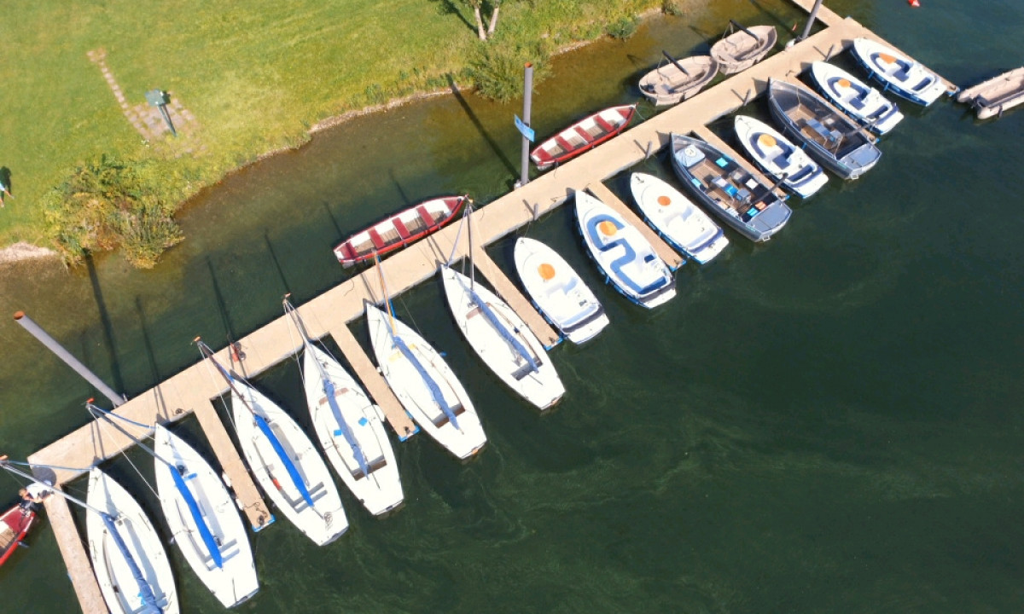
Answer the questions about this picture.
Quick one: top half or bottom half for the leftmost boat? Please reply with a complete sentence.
Seen from above, the leftmost boat lies in the bottom half of the view.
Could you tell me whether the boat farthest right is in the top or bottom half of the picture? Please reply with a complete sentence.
You can find the boat farthest right in the top half.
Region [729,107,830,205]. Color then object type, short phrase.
white boat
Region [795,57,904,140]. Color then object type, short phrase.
white boat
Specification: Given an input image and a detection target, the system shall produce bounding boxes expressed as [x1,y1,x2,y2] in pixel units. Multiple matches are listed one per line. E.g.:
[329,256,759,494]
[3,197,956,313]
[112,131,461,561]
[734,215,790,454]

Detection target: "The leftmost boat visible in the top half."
[333,194,479,271]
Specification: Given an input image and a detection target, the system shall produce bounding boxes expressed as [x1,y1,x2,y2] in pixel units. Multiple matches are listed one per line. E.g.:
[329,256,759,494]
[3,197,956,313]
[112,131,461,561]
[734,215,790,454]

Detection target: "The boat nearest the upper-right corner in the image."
[948,65,1024,122]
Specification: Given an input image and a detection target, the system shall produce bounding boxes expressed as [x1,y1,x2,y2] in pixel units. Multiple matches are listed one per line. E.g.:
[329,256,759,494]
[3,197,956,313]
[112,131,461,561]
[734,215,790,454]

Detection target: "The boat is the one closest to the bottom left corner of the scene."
[0,498,46,575]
